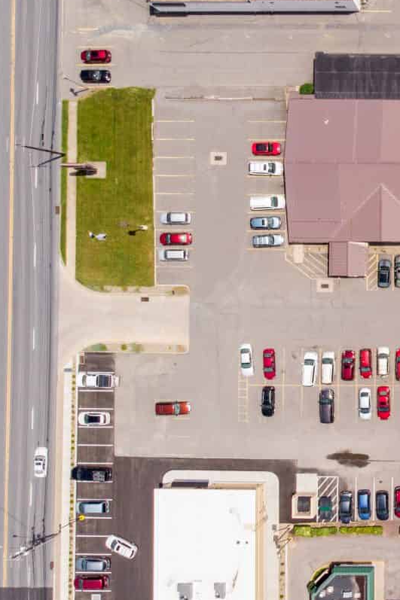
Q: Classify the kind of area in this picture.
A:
parking lot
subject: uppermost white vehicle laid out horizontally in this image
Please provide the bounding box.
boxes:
[248,160,282,175]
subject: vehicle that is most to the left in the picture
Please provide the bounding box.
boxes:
[32,446,49,478]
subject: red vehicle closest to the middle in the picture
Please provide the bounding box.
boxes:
[161,232,193,246]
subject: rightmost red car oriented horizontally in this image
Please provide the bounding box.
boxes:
[252,141,281,155]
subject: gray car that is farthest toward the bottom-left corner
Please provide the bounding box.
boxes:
[78,556,111,573]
